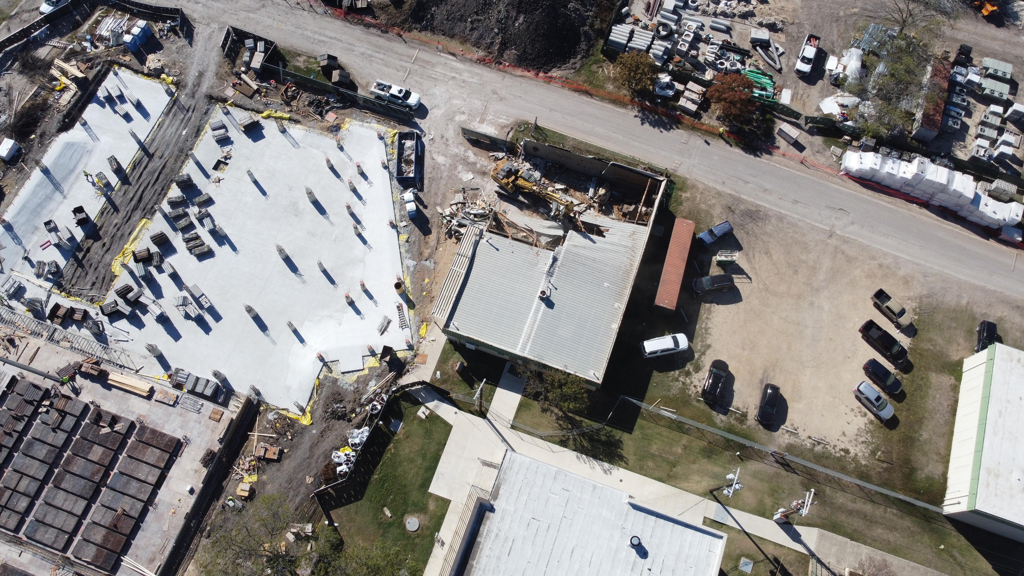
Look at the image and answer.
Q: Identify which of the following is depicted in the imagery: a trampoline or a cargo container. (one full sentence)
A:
Visible in the photo is a cargo container.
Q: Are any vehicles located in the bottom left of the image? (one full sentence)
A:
No, looking in the bottom left of the image, there is no vehicle.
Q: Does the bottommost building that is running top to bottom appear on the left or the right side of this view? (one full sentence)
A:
It is on the right.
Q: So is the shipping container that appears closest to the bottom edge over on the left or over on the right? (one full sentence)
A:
You can find the shipping container that appears closest to the bottom edge on the right side of the picture.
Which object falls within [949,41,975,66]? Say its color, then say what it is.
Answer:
black work vehicle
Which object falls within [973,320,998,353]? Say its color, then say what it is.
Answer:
black car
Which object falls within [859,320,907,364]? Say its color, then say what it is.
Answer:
black truck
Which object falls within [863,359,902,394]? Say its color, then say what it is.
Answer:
black car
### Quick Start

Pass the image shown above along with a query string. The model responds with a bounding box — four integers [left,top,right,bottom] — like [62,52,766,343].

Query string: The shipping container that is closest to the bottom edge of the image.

[652,217,695,317]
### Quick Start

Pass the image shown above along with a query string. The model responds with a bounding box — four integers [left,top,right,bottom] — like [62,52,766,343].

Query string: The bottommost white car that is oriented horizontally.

[641,334,689,360]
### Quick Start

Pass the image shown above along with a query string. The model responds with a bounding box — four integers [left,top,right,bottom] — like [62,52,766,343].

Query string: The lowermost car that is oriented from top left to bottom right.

[853,382,894,420]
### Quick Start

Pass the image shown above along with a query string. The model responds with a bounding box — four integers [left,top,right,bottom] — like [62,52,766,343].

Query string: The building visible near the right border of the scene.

[942,342,1024,541]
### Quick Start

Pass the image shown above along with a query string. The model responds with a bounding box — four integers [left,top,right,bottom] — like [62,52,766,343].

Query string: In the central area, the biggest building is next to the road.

[442,137,668,392]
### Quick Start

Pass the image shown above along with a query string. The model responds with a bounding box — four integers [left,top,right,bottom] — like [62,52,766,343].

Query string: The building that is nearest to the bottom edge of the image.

[452,449,727,576]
